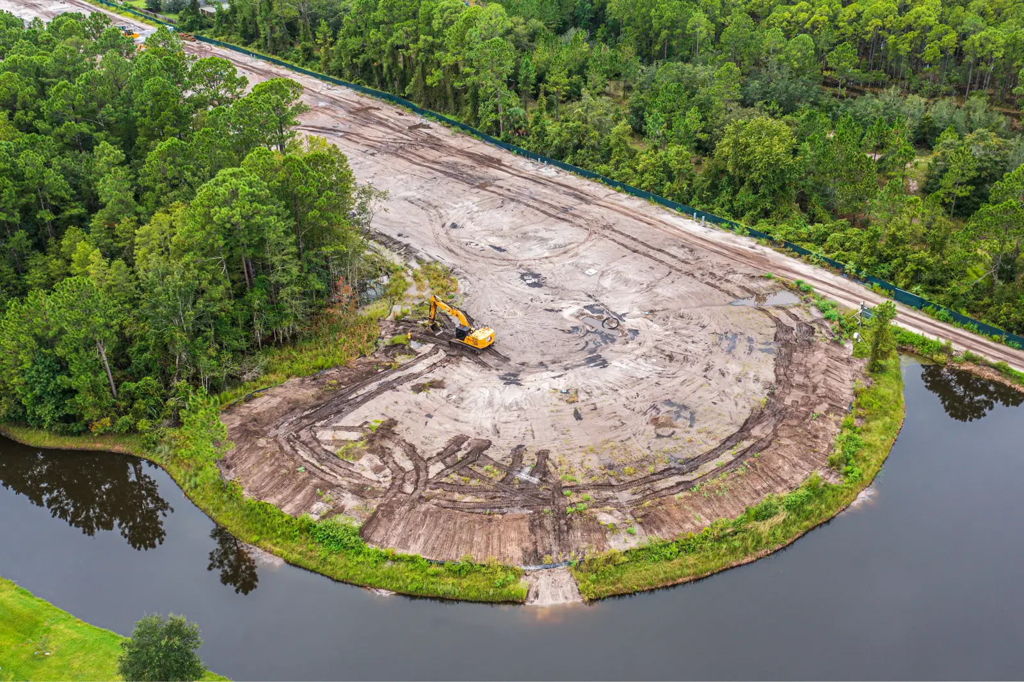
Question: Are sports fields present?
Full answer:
No, no sports field is visible in the scene.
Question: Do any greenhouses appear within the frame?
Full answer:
No, I find no greenhouse anywhere in the image.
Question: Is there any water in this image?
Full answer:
Yes, there is water in the image.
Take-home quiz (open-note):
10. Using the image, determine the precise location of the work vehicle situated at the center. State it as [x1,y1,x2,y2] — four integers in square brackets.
[430,302,496,361]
